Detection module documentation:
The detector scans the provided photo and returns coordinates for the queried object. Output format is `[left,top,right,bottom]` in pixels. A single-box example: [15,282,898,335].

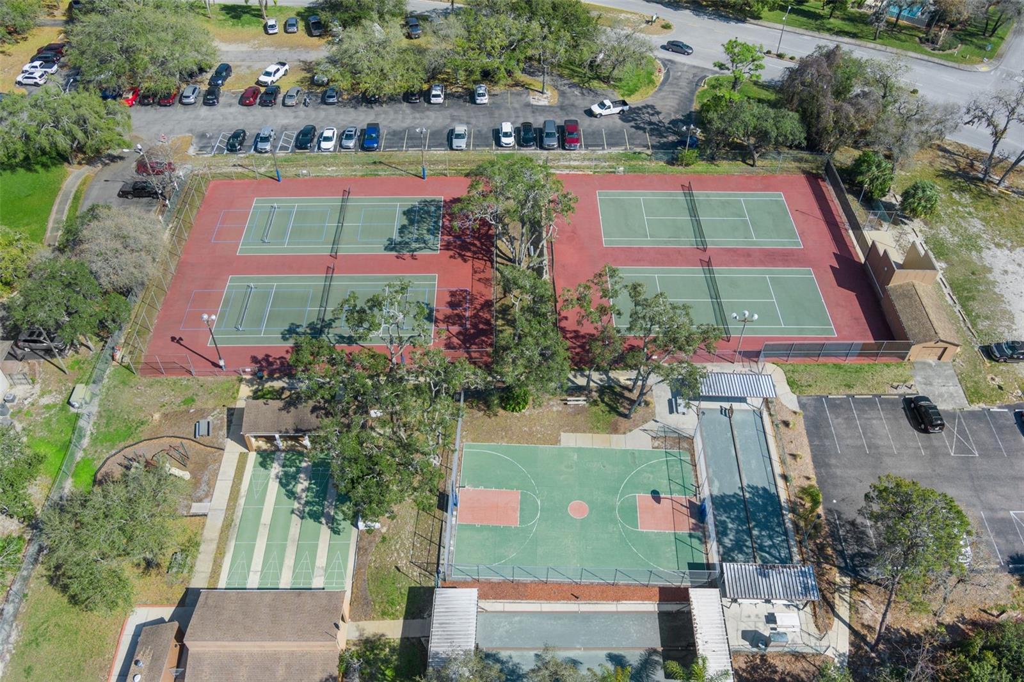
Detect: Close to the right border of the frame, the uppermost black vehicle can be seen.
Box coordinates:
[993,339,1024,362]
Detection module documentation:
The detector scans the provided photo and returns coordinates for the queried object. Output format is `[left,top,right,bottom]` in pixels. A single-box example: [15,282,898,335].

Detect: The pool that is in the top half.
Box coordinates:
[859,0,934,25]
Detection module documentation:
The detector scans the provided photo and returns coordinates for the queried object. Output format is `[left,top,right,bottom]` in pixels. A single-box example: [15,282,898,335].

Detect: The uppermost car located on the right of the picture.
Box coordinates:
[664,38,696,55]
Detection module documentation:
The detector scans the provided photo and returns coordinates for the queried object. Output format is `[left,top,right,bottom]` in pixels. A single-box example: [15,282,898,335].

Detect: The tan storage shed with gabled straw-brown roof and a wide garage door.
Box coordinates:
[880,278,955,356]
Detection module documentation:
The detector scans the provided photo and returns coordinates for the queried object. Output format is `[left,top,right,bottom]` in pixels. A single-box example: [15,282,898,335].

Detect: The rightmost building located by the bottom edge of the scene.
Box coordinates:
[179,589,348,682]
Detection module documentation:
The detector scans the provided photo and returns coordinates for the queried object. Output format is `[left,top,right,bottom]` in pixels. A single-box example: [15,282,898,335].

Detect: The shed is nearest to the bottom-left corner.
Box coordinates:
[127,622,185,682]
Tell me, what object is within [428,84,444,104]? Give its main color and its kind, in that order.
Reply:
white car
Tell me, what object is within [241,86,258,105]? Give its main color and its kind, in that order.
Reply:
red car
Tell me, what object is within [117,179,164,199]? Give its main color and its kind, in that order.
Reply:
black vehicle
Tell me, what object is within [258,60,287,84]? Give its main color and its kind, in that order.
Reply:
white truck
